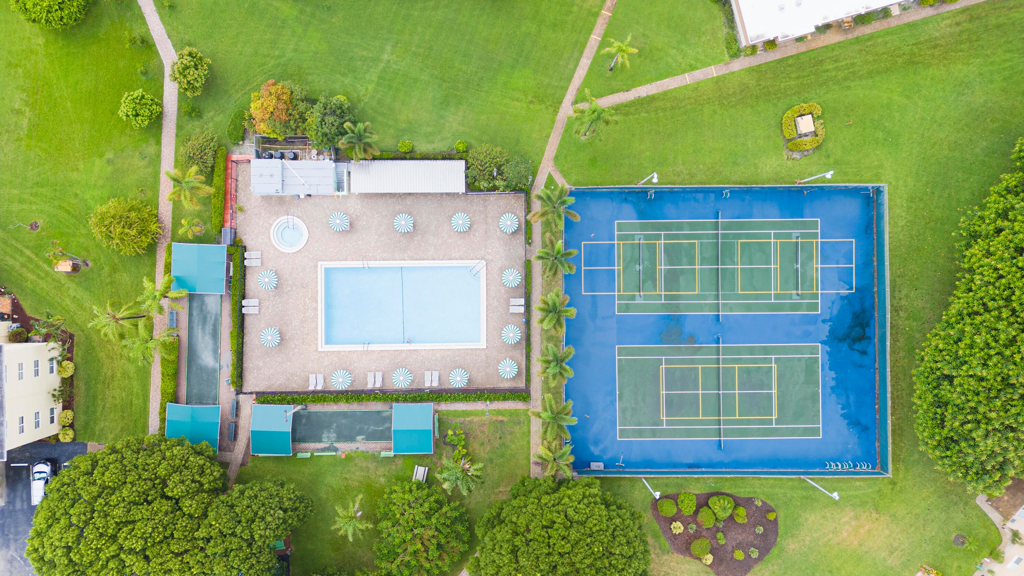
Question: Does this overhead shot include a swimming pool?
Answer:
Yes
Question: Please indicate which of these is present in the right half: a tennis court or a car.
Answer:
tennis court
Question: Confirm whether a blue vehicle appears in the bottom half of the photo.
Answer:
No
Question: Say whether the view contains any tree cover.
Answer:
Yes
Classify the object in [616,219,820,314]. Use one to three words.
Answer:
tennis court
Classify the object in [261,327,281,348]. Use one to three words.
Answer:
umbrella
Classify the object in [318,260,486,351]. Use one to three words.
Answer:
swimming pool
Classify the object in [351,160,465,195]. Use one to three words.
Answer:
building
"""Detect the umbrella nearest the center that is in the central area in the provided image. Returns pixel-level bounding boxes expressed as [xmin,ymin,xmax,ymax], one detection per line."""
[501,268,521,288]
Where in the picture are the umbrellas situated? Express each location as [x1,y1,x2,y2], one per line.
[394,213,414,233]
[392,368,412,388]
[499,213,519,234]
[331,369,351,389]
[261,327,281,348]
[501,268,521,288]
[258,270,278,290]
[329,212,350,232]
[449,368,469,388]
[451,212,471,232]
[501,324,521,345]
[498,359,518,379]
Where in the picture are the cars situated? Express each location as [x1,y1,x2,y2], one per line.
[29,459,54,505]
